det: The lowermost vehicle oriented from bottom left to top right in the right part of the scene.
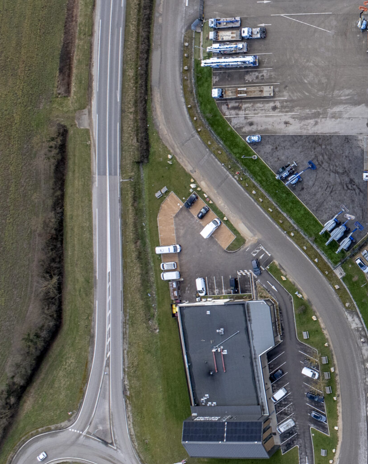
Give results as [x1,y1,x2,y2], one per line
[277,418,296,434]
